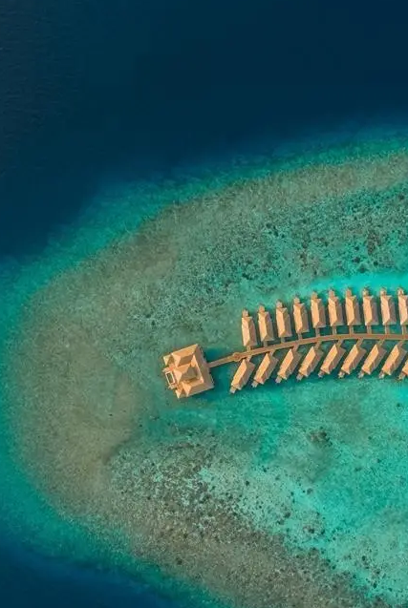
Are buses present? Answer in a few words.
No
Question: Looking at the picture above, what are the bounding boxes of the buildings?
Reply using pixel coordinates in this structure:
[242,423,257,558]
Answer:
[273,349,302,384]
[327,289,343,326]
[163,344,214,399]
[275,300,293,338]
[295,347,324,381]
[344,288,361,326]
[336,344,365,377]
[257,305,273,342]
[378,345,407,378]
[379,288,396,325]
[241,309,257,346]
[228,359,256,394]
[397,288,408,325]
[293,296,309,334]
[358,344,387,377]
[316,344,345,377]
[362,288,378,326]
[251,354,278,387]
[310,290,326,328]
